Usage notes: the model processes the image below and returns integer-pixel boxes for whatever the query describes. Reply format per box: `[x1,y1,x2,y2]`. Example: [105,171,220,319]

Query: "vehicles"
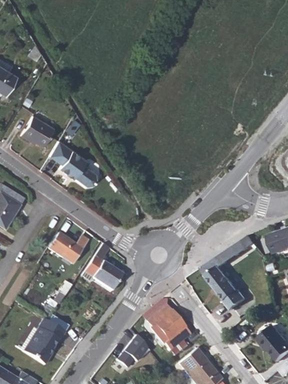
[62,220,71,232]
[52,165,60,174]
[238,331,248,341]
[222,364,232,374]
[49,216,58,229]
[216,307,227,316]
[68,329,78,341]
[222,312,232,322]
[193,197,202,208]
[144,281,152,292]
[242,359,252,370]
[16,251,24,262]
